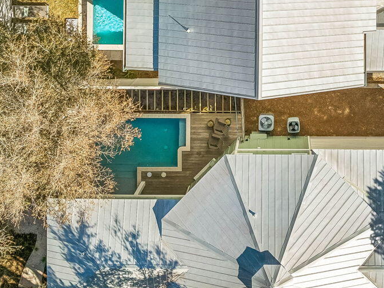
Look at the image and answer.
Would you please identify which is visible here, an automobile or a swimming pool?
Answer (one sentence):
The image shows a swimming pool.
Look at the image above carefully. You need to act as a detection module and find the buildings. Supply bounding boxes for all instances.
[122,0,384,97]
[44,123,384,288]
